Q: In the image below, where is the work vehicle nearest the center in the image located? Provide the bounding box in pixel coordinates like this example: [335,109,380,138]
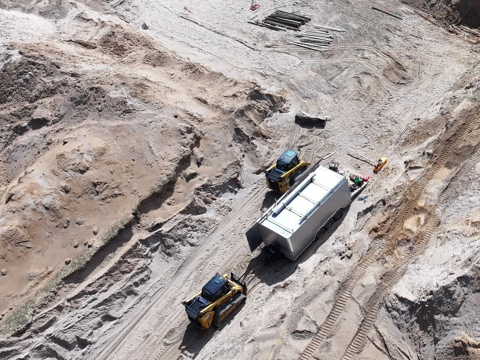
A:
[253,148,304,192]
